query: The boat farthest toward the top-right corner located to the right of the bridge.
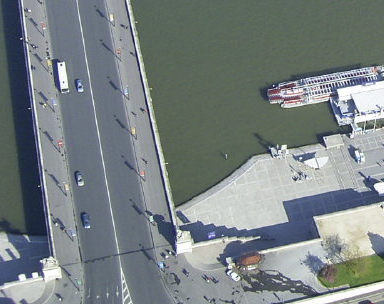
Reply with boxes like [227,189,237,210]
[266,61,384,106]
